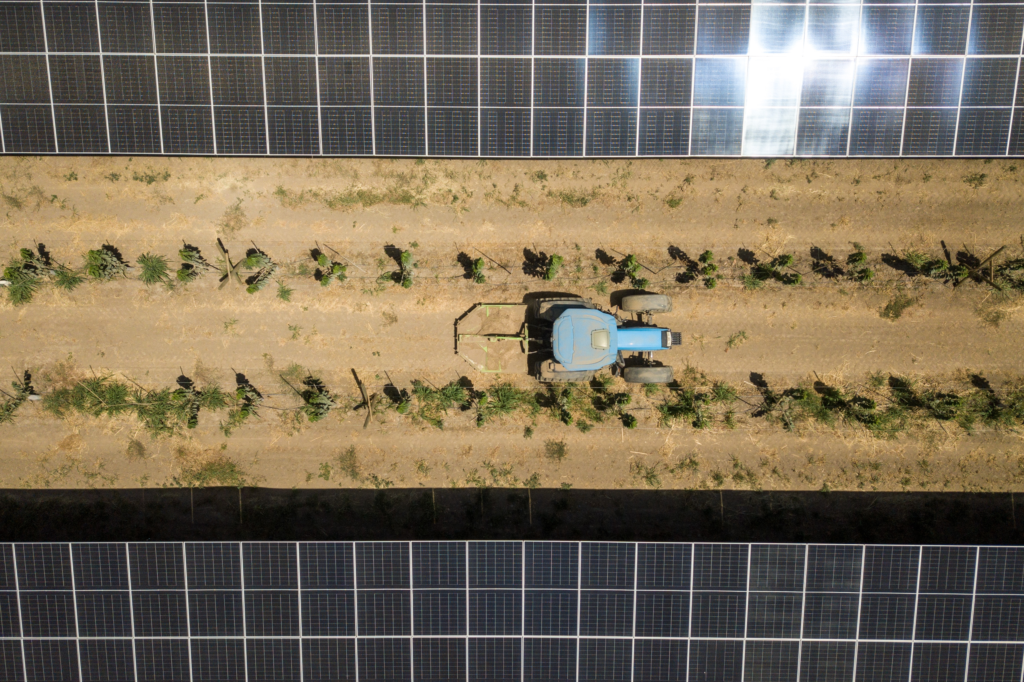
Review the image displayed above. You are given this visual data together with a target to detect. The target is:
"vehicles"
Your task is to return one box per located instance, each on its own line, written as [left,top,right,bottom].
[527,295,681,383]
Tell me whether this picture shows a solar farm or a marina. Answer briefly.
solar farm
